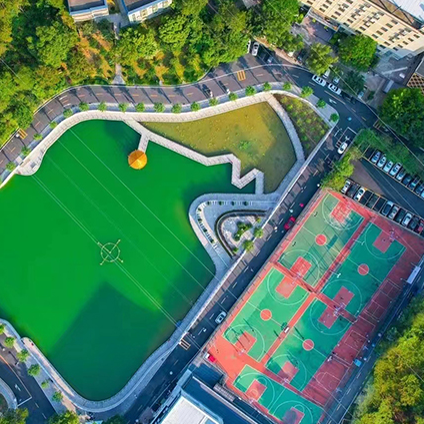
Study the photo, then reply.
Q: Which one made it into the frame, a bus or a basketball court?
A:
basketball court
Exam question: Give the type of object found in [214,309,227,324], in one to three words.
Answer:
vehicle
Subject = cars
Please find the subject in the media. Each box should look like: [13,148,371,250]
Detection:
[362,191,373,206]
[408,216,419,230]
[251,41,259,56]
[415,219,424,234]
[337,89,352,102]
[214,309,227,324]
[311,74,326,86]
[369,149,381,165]
[388,162,400,177]
[401,173,412,187]
[336,141,348,155]
[387,205,399,220]
[381,201,393,216]
[414,180,424,195]
[321,70,330,80]
[393,208,404,223]
[330,72,341,85]
[375,154,387,169]
[264,52,275,66]
[408,176,420,191]
[354,187,365,201]
[340,179,351,194]
[381,159,393,173]
[400,212,412,227]
[347,182,358,197]
[326,82,341,93]
[283,215,296,230]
